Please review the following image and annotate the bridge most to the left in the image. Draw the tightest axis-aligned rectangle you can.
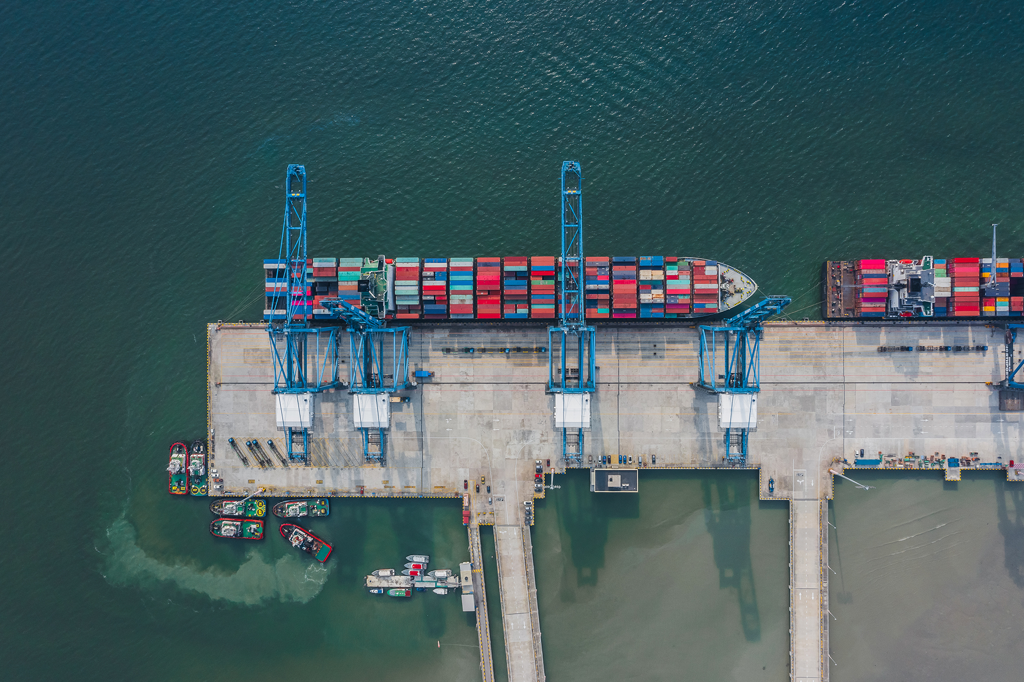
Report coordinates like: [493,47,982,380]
[492,525,545,682]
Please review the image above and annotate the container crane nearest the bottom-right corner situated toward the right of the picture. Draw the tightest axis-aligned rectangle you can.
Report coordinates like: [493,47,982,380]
[995,327,1024,389]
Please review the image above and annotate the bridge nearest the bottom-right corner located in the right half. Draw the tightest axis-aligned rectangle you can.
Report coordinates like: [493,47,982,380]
[787,499,830,682]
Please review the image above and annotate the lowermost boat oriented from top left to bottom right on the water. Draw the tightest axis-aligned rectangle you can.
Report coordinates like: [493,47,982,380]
[280,519,336,566]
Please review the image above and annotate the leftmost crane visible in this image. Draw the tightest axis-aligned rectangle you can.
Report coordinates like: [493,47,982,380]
[262,162,347,462]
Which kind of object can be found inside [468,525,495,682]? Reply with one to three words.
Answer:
pier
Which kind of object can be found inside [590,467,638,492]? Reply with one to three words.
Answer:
building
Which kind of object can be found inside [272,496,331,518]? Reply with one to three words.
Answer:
boat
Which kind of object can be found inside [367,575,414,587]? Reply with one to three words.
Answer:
pier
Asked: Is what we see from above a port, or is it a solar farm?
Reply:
port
